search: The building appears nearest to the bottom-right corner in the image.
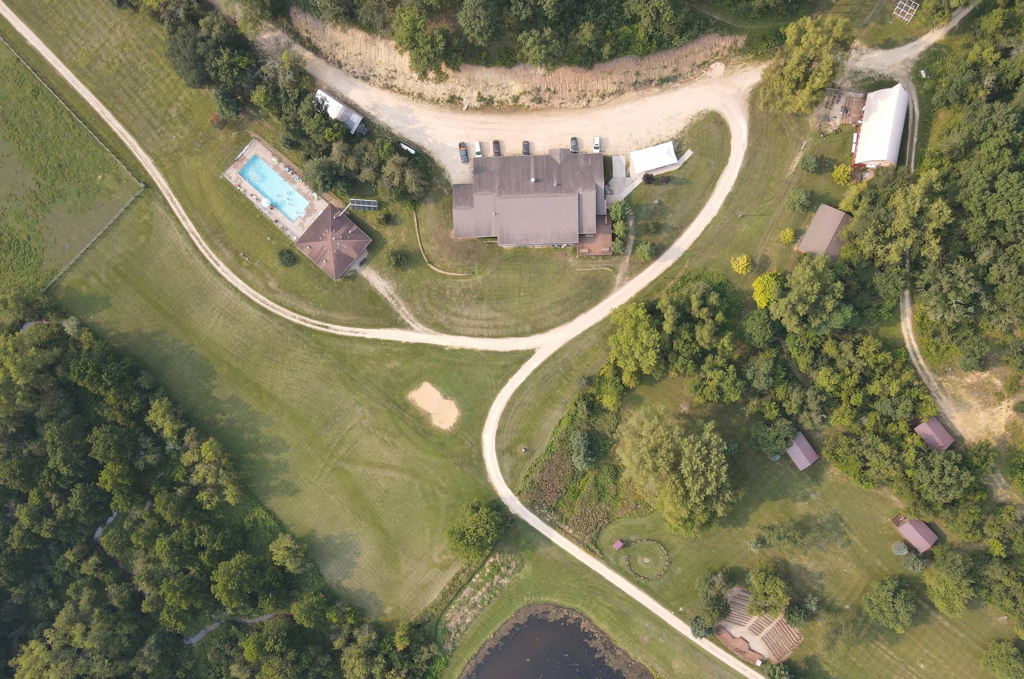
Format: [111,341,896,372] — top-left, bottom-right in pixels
[899,516,938,555]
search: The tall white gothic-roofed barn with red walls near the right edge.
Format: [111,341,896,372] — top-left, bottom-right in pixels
[851,84,911,171]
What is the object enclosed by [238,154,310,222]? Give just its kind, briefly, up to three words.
swimming pool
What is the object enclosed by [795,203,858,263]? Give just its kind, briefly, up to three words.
building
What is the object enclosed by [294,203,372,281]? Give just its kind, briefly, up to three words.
building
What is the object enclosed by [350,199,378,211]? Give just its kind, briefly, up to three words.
solar array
